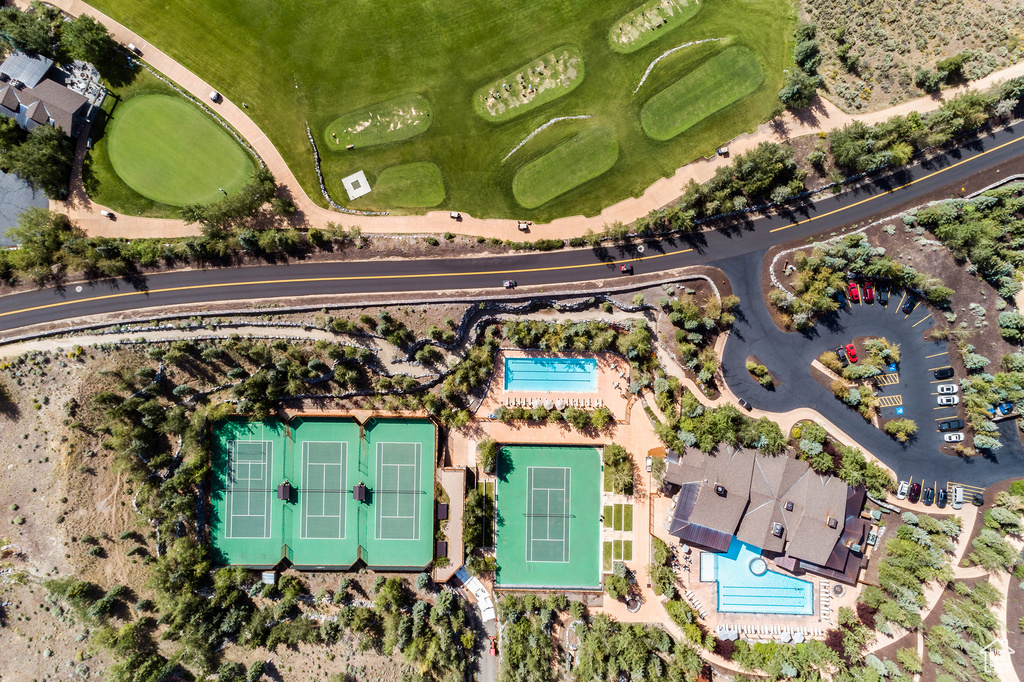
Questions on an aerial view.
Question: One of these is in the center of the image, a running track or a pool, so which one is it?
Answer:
pool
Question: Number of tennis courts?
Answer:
4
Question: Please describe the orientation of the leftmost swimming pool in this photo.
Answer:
horizontally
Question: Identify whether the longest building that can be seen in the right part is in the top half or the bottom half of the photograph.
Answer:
bottom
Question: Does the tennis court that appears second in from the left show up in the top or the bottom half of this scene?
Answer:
bottom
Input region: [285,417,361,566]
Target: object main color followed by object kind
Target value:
green tennis court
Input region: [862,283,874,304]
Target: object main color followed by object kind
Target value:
red vehicle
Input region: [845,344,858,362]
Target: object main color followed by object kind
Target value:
red vehicle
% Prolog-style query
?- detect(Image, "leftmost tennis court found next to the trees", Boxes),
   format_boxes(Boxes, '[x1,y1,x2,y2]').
[210,417,285,566]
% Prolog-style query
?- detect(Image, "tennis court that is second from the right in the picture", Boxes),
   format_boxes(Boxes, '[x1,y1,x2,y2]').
[359,419,434,566]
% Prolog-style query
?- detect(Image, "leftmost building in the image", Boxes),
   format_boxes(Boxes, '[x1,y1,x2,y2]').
[0,51,95,138]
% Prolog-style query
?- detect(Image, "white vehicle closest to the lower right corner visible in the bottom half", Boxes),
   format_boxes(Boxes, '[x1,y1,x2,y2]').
[951,485,964,509]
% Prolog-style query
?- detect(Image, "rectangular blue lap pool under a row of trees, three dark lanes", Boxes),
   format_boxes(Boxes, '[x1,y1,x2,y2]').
[504,357,598,393]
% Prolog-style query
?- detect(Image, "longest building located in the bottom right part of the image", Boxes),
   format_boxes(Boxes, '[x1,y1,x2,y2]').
[664,445,871,585]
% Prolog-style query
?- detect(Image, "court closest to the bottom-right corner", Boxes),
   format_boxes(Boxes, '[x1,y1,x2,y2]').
[496,445,602,586]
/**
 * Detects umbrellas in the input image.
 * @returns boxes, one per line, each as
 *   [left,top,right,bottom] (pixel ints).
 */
[555,399,565,409]
[792,631,804,643]
[544,399,553,409]
[532,399,542,408]
[727,629,738,641]
[779,630,791,642]
[717,628,728,640]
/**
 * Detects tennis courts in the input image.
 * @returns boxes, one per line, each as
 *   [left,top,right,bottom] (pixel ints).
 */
[210,417,285,566]
[496,445,602,586]
[285,417,361,566]
[359,419,434,566]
